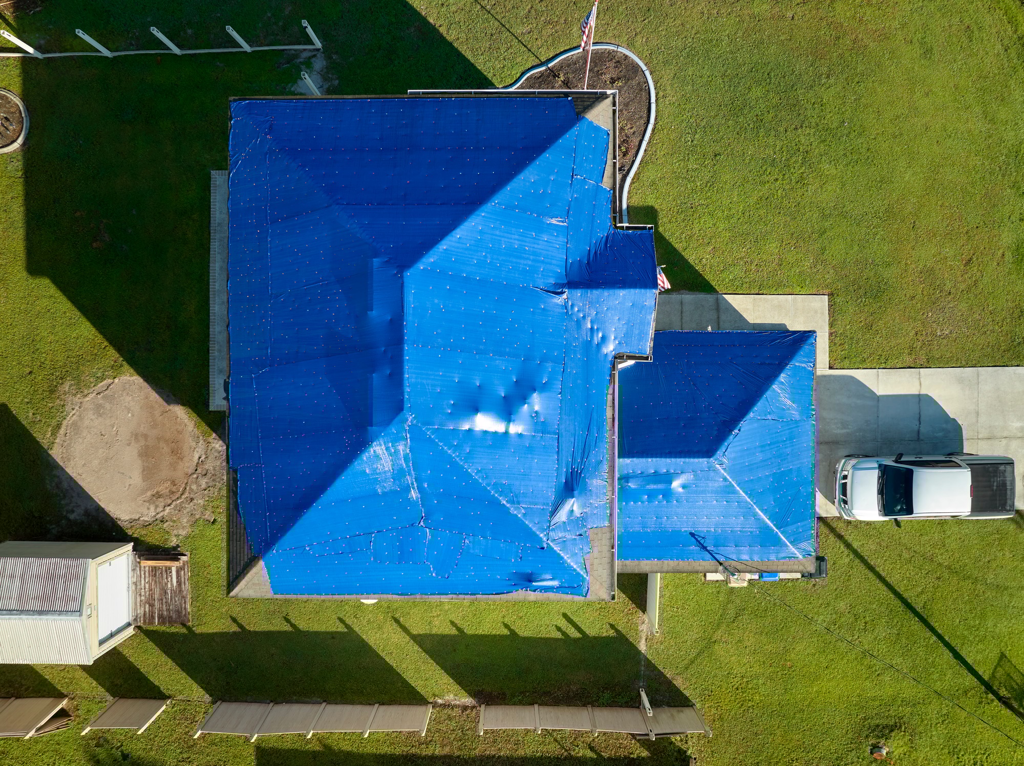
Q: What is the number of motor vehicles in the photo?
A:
one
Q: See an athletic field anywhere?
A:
No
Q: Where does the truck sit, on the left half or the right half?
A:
right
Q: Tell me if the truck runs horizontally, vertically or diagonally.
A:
horizontally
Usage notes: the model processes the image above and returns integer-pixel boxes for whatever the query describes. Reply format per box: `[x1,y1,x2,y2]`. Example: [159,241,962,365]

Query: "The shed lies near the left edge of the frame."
[0,544,136,666]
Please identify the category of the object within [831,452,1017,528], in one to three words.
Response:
truck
